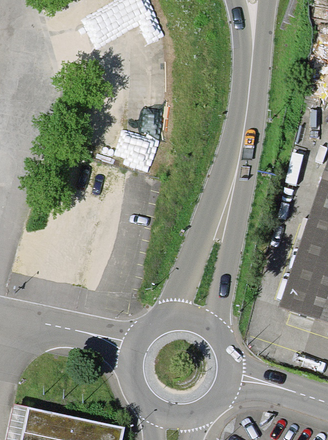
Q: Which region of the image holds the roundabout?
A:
bottom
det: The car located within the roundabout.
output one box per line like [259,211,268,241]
[226,344,243,363]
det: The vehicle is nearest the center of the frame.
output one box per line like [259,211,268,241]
[130,214,150,226]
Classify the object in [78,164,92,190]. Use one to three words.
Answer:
car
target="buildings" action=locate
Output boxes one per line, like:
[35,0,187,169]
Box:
[280,172,328,322]
[22,407,124,440]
